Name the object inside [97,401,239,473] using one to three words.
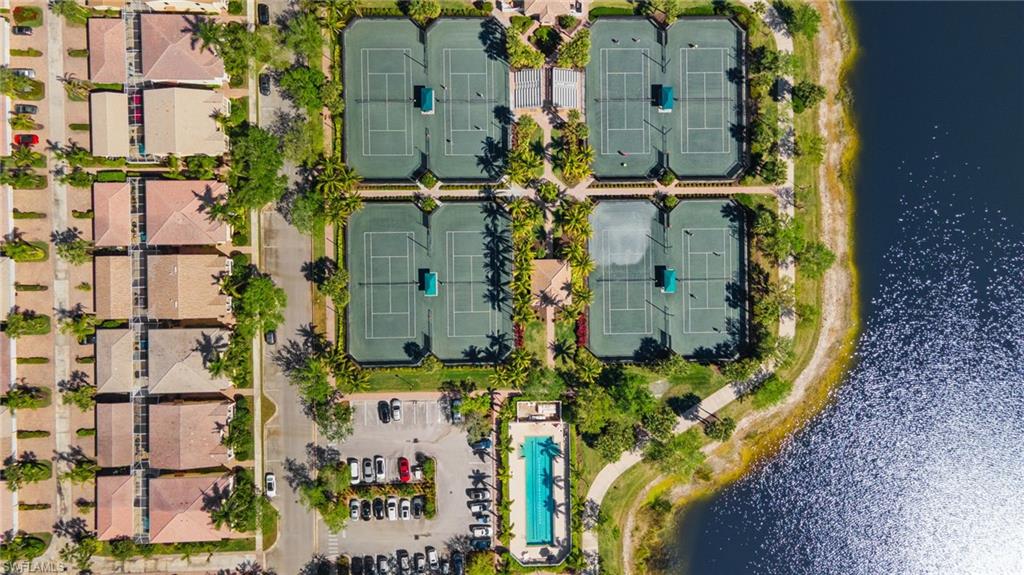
house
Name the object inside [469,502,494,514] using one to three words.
vehicle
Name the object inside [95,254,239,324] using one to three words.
house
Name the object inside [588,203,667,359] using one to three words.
tennis court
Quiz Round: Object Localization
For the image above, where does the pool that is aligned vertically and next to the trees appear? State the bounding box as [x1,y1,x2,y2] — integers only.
[509,421,570,565]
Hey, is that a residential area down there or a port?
residential area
